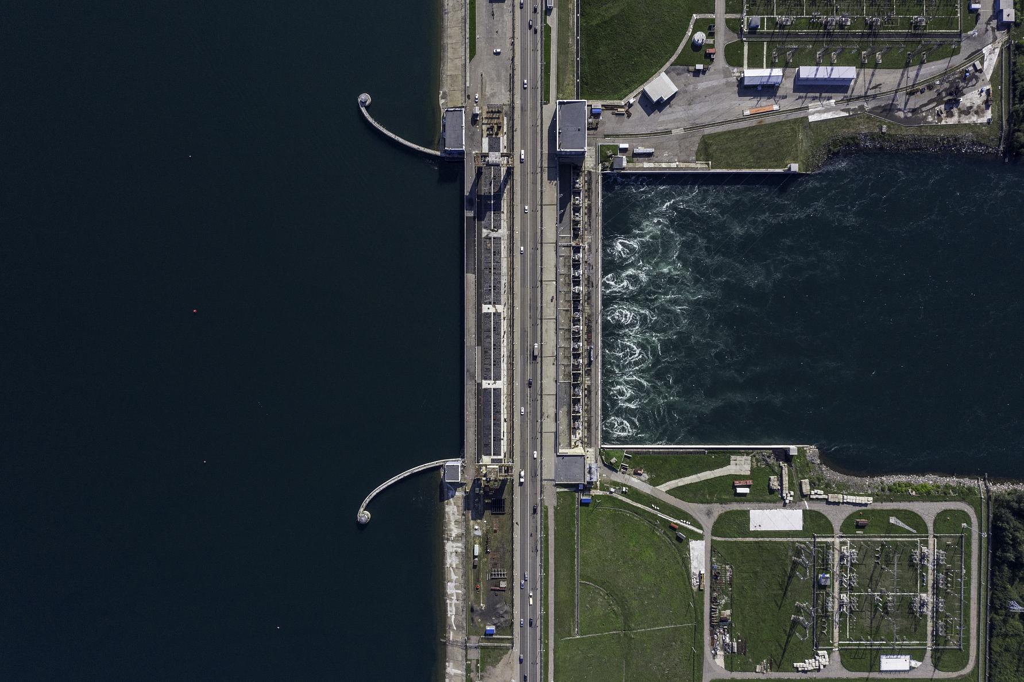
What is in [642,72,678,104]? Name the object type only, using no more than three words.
building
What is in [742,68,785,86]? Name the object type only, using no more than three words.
shed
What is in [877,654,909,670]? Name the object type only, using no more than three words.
house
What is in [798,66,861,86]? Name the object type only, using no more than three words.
shed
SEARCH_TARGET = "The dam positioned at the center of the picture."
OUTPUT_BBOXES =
[463,103,602,488]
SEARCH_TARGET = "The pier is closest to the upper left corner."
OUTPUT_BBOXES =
[358,93,444,157]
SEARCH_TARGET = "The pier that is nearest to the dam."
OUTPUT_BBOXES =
[358,458,461,524]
